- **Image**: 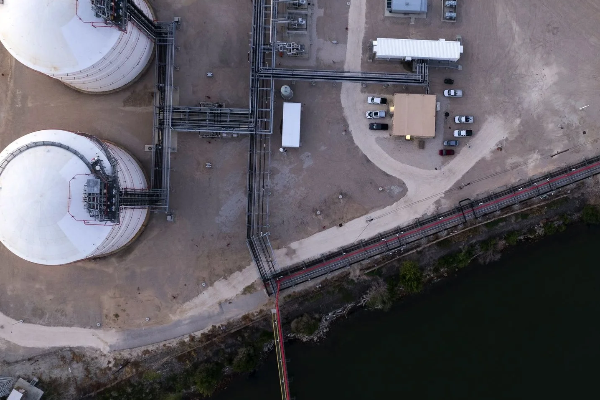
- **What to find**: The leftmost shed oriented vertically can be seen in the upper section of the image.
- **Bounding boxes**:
[282,102,303,148]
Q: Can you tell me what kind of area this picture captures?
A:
industrial area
